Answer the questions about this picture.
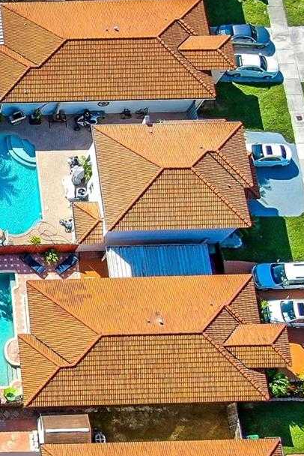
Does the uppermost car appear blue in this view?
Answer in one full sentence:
Yes, blue is the color of the uppermost car.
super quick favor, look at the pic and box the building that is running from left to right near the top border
[0,0,233,115]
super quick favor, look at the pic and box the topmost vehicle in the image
[214,22,270,49]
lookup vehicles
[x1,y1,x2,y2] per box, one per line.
[224,55,282,82]
[237,141,296,169]
[214,22,270,49]
[251,261,304,292]
[265,298,304,328]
